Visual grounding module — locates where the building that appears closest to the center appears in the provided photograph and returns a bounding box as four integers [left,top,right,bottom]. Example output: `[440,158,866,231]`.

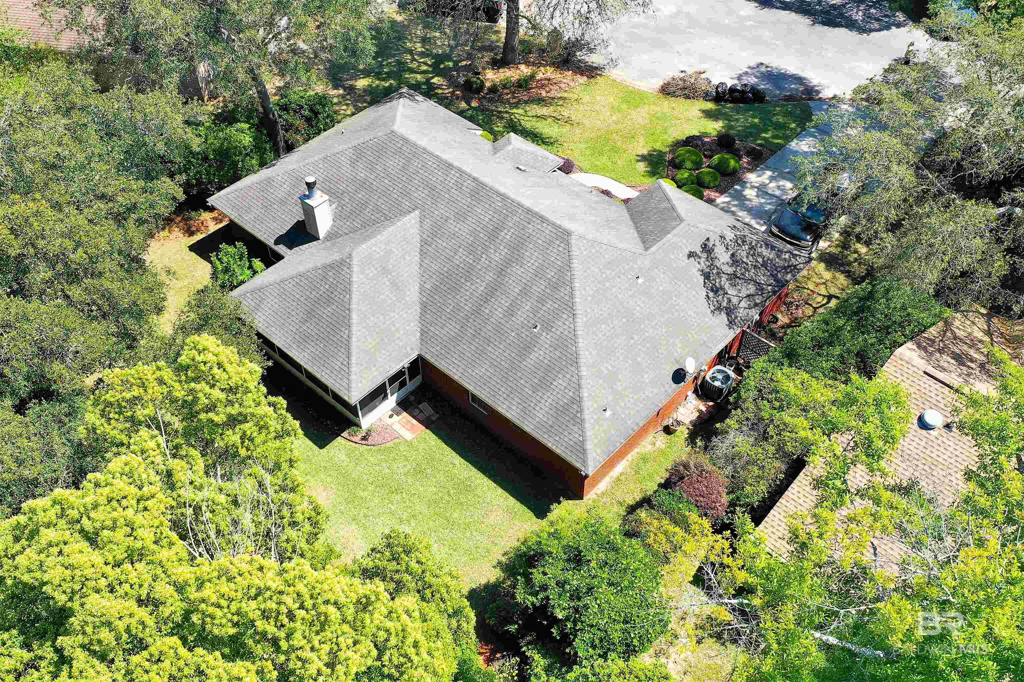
[208,83,814,498]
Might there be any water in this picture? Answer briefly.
No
